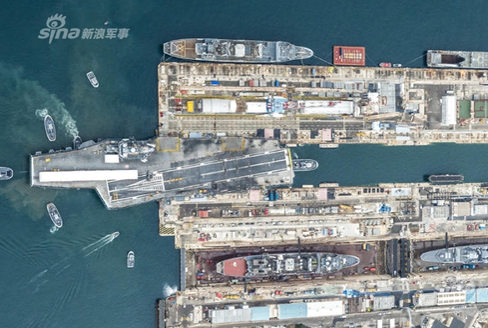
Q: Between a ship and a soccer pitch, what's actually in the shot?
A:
ship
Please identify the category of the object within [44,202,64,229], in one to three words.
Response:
boat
